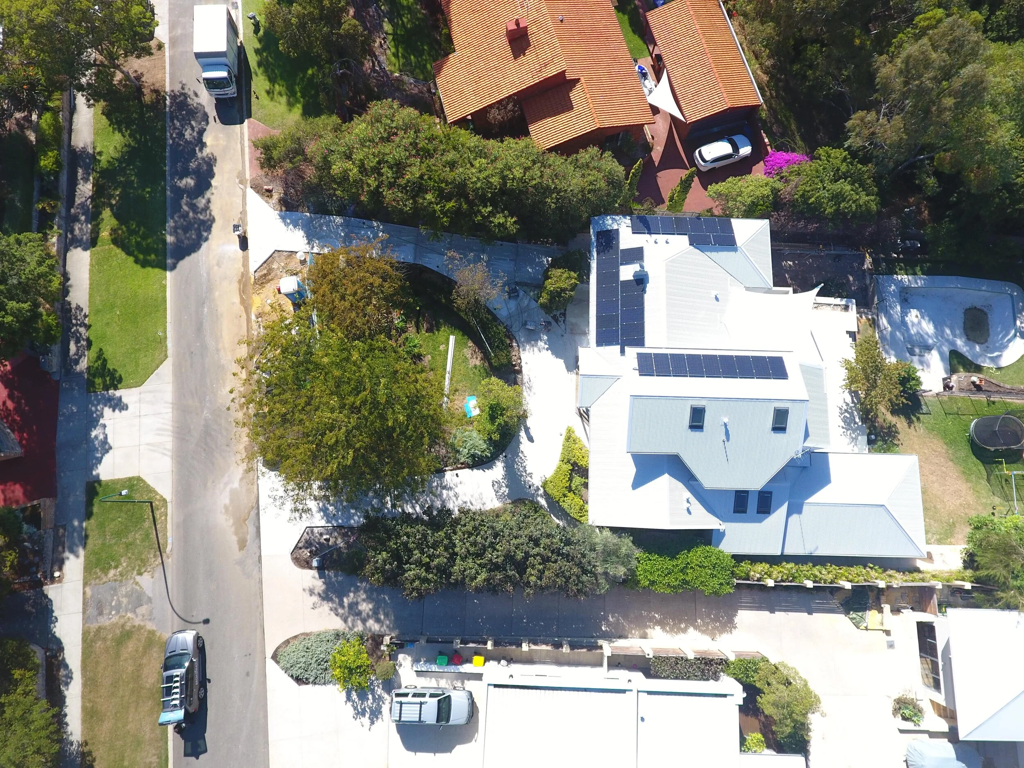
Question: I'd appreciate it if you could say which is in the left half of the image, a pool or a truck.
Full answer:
You can see a truck in the left half of the image.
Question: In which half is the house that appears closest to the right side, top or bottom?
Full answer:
The bottom half of the photo is where the house that appears closest to the right side is.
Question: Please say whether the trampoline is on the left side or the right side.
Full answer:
You can find the trampoline on the right side of the picture.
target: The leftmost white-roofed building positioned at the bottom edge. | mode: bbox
[481,651,749,768]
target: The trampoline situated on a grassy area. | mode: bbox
[962,409,1024,452]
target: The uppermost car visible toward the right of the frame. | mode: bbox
[690,131,757,175]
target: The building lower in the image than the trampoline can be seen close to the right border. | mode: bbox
[887,606,1024,743]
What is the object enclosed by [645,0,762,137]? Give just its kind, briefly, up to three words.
building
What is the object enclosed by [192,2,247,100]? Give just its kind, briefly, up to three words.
truck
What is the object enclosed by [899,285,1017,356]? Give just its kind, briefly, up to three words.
swimming pool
